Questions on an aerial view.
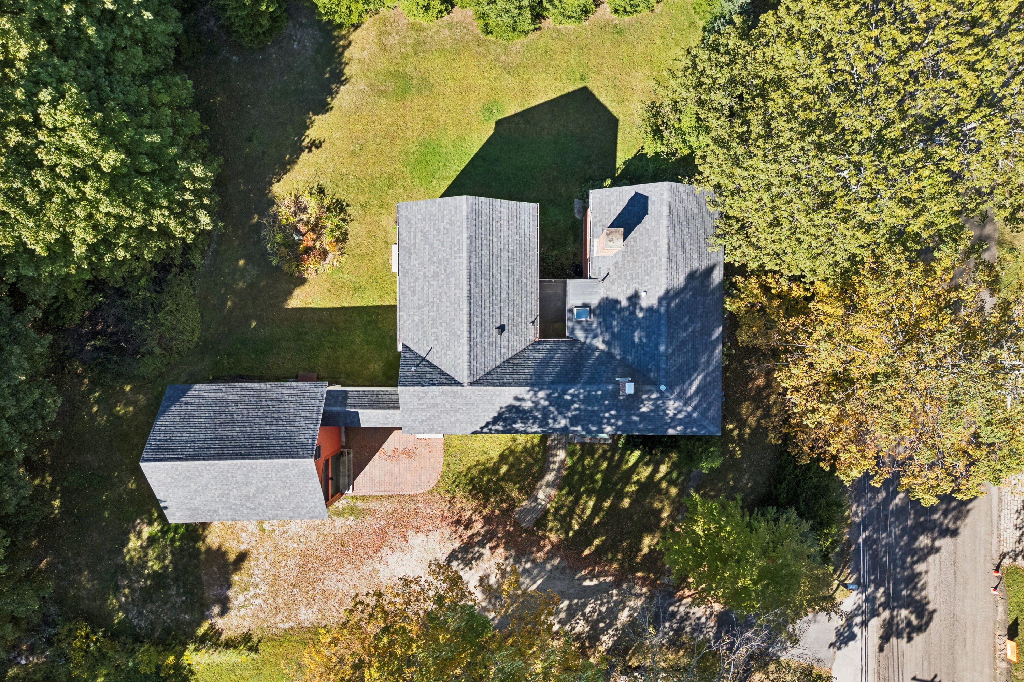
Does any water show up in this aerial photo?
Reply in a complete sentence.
No, no water is visible.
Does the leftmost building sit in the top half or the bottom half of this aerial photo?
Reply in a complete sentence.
The bottom half of the photo is where the leftmost building is.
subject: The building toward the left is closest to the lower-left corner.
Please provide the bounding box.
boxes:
[142,381,343,524]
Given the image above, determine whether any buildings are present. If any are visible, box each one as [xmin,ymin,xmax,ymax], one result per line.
[394,182,722,436]
[142,381,343,524]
